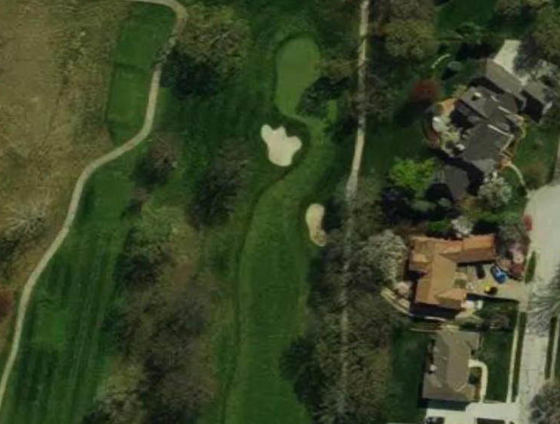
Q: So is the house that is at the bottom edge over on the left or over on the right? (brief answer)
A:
right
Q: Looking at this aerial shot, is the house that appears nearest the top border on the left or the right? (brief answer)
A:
right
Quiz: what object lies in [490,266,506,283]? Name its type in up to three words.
car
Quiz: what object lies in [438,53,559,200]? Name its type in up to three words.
house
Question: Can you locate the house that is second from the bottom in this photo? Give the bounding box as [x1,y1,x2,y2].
[410,235,497,311]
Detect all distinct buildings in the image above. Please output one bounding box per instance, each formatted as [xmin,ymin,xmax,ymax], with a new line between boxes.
[438,53,559,200]
[410,235,497,311]
[421,329,482,404]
